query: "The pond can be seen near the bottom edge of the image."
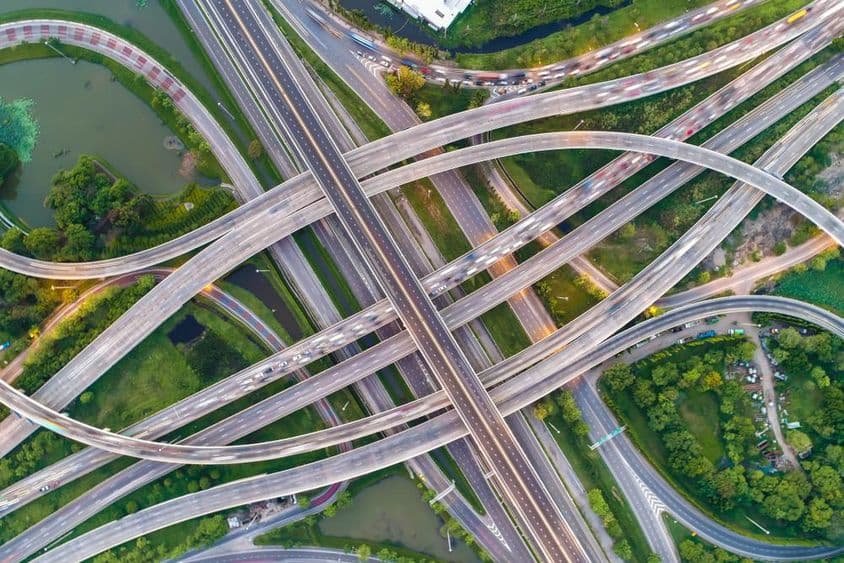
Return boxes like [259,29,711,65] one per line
[316,474,487,563]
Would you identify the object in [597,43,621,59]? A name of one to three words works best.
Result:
vehicle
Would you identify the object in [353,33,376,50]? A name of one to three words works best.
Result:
vehicle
